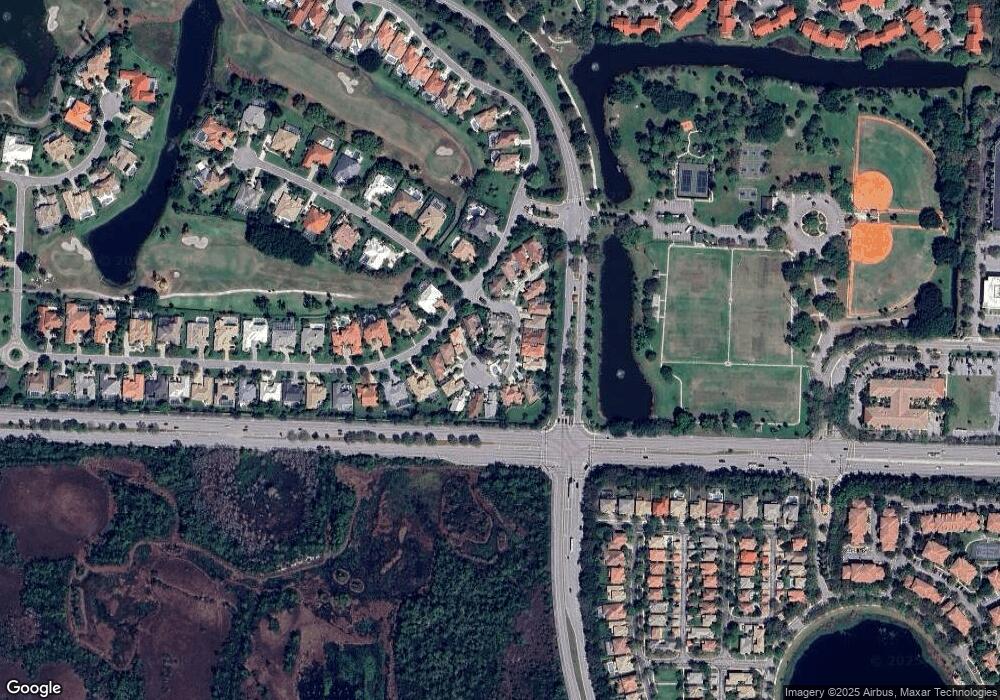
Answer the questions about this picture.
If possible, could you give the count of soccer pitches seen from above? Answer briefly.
3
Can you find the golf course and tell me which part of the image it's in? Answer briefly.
top left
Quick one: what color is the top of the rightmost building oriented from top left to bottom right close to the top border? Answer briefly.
red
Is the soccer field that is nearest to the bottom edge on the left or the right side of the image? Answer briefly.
right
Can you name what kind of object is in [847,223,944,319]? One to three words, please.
baseball field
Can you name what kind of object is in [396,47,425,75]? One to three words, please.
house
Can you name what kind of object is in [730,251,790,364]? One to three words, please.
soccer field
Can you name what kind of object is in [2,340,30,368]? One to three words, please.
roundabout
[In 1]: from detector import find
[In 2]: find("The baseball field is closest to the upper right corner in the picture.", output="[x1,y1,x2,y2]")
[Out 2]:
[854,112,948,233]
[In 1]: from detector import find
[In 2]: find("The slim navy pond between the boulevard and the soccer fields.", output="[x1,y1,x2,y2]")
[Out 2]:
[599,233,654,420]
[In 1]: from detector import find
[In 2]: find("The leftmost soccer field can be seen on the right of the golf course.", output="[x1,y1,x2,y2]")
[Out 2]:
[663,249,730,361]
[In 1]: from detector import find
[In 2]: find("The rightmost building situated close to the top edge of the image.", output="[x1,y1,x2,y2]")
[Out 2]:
[967,3,983,54]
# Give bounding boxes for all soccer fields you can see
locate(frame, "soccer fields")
[663,249,730,361]
[730,251,790,364]
[684,366,801,423]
